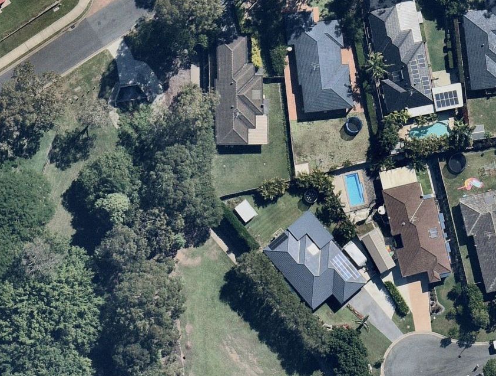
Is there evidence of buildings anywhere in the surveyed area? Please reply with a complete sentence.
Yes, there's a building here.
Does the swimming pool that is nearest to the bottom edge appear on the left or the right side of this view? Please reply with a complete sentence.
You can find the swimming pool that is nearest to the bottom edge on the right side of the picture.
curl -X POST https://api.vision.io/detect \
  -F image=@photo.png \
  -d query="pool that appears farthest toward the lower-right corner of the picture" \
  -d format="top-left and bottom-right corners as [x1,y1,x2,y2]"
[344,170,366,208]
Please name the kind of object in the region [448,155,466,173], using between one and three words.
trampoline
